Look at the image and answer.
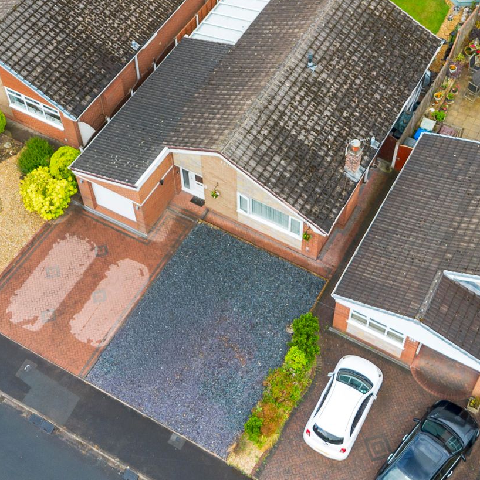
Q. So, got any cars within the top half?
No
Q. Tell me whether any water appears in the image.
No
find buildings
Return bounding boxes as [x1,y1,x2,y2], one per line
[65,0,446,258]
[329,129,480,395]
[0,0,204,147]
